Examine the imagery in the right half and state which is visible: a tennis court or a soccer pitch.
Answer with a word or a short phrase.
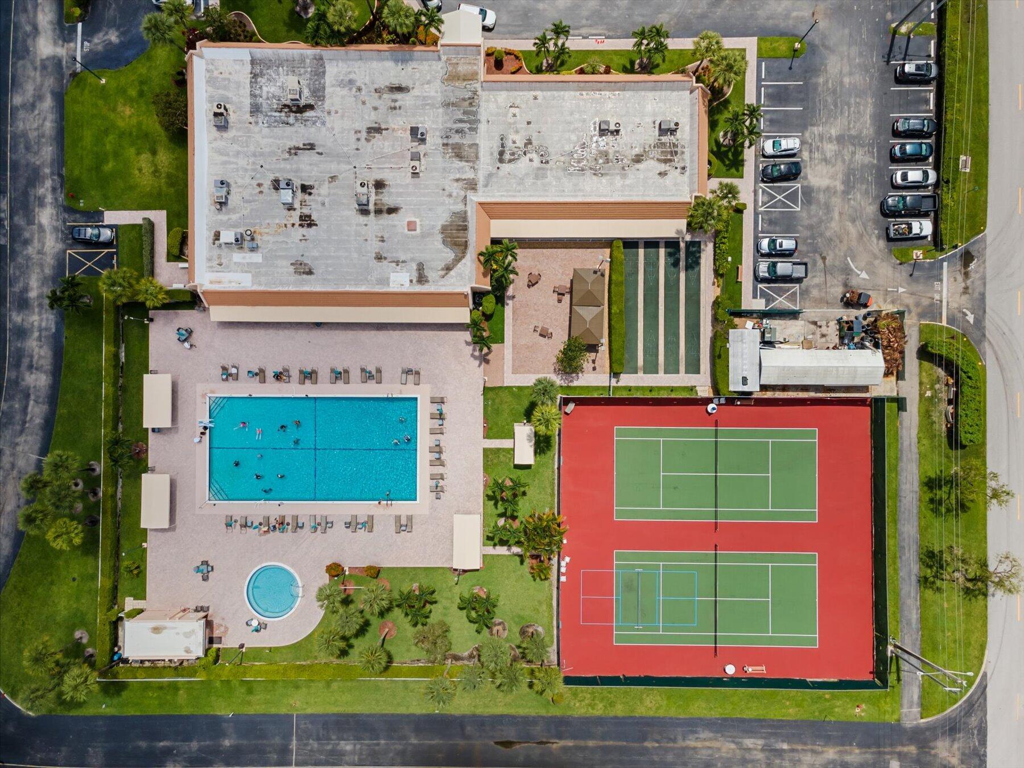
tennis court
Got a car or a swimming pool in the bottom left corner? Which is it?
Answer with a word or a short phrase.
swimming pool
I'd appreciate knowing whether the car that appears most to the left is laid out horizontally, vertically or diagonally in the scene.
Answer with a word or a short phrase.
horizontally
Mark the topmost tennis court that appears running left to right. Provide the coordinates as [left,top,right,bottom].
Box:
[561,398,874,537]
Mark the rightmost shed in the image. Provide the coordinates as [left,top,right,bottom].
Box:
[760,350,885,385]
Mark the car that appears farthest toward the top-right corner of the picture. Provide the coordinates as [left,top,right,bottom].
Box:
[894,61,937,84]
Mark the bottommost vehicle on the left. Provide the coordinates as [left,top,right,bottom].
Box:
[72,224,116,245]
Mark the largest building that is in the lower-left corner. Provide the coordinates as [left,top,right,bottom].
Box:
[124,604,214,657]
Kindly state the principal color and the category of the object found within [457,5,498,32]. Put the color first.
white car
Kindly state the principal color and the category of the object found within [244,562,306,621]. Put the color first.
blue swimming pool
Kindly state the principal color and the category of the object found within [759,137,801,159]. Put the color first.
white car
